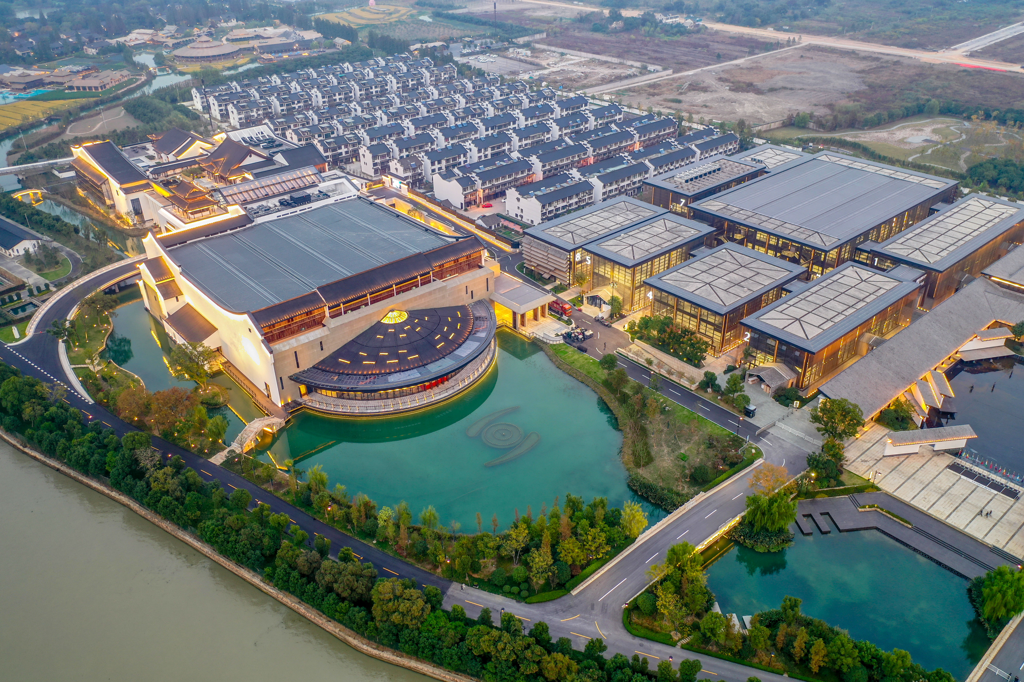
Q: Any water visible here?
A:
Yes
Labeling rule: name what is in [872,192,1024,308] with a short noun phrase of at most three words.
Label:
building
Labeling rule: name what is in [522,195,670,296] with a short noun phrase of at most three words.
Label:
building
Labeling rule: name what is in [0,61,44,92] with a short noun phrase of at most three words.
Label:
house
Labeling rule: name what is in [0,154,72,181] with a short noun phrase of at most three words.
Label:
bridge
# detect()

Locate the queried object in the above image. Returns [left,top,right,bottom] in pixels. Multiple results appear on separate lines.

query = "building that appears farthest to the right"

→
[980,253,1024,303]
